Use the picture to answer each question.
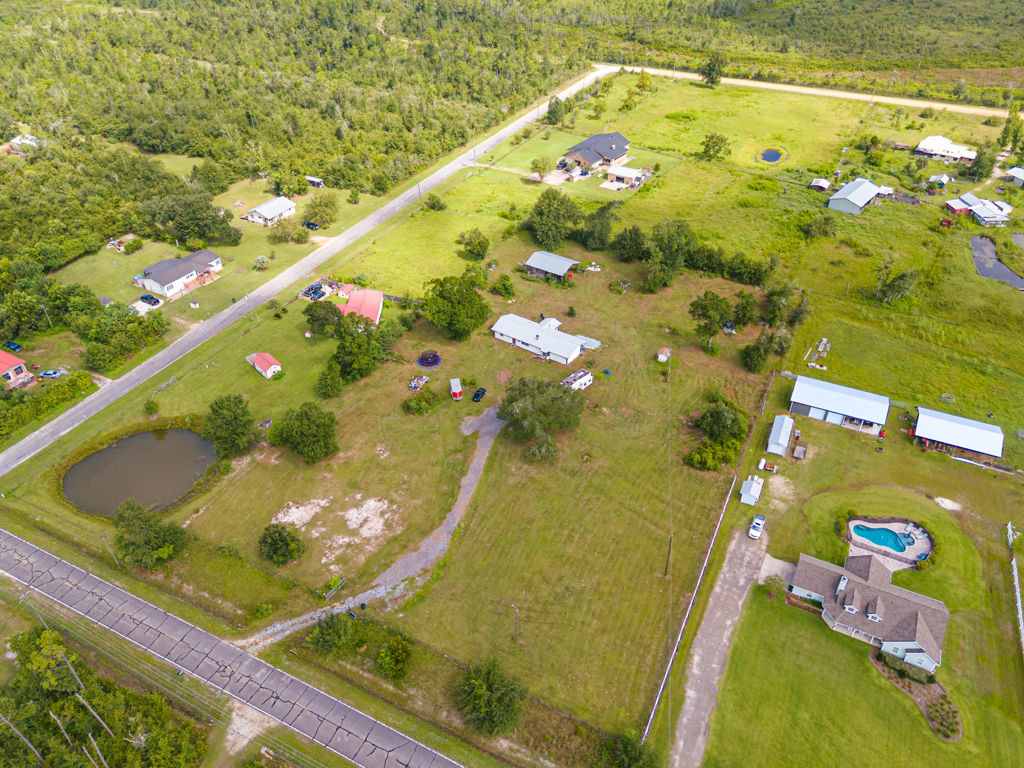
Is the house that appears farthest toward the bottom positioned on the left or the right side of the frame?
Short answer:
right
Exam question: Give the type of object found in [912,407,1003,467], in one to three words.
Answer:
barn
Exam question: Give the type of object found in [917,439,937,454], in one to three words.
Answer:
work vehicle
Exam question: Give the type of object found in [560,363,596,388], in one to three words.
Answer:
camper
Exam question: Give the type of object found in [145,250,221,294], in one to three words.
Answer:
house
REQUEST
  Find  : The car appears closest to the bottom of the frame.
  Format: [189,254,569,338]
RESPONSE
[750,513,765,537]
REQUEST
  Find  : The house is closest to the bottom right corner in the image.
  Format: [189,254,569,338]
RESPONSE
[784,553,949,672]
